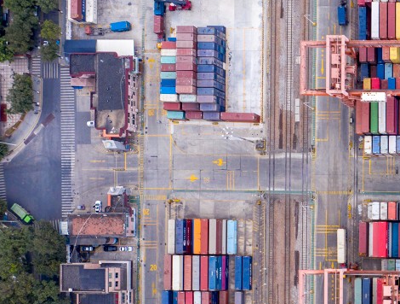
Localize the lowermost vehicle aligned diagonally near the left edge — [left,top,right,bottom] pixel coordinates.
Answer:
[6,204,33,225]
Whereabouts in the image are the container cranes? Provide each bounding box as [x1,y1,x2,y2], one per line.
[301,34,400,118]
[300,258,400,304]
